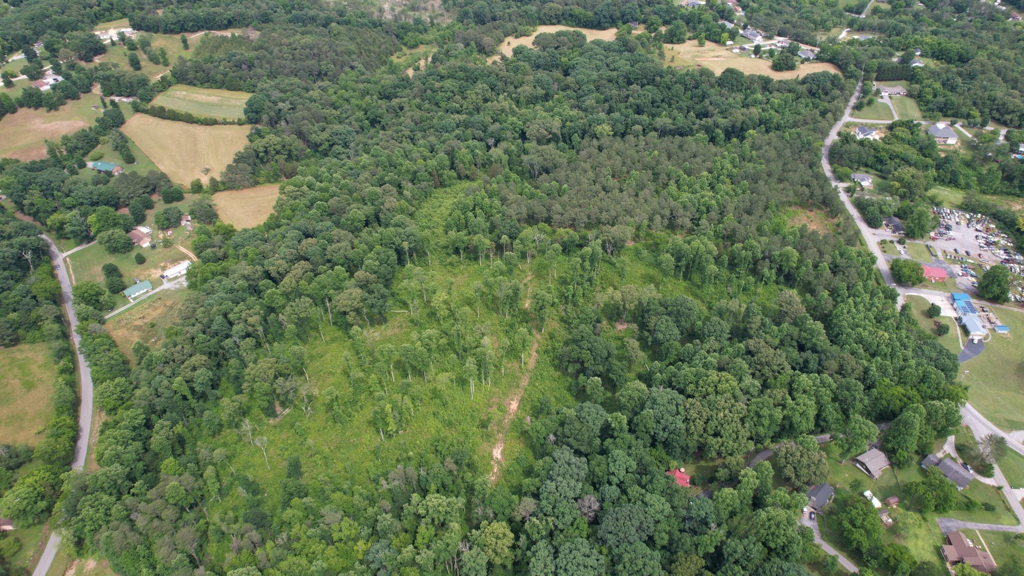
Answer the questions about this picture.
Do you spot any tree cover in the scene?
Yes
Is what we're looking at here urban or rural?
rural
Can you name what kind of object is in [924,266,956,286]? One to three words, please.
house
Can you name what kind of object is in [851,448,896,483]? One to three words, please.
house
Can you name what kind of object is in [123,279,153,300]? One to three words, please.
building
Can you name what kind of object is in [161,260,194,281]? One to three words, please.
building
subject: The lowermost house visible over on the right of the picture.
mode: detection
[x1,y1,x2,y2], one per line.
[938,530,1000,576]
